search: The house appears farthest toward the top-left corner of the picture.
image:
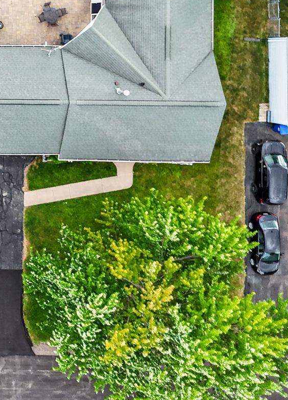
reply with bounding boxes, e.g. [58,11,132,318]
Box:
[0,0,225,163]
